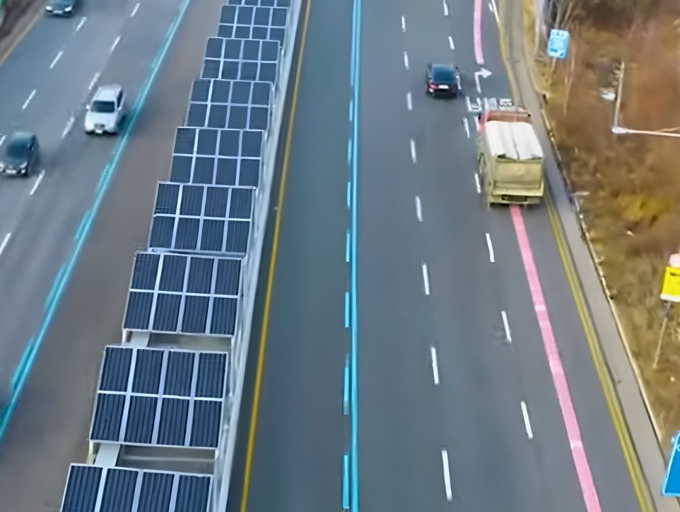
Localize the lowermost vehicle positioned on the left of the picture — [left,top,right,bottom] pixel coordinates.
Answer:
[0,134,43,178]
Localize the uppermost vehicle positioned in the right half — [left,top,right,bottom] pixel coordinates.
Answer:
[423,65,458,97]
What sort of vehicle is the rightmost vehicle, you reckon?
truck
